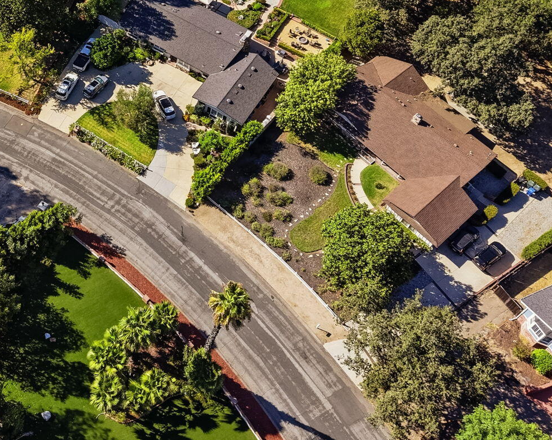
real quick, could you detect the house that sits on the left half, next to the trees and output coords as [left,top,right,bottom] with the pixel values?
[120,0,279,134]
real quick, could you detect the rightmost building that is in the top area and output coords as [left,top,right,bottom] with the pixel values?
[337,58,498,253]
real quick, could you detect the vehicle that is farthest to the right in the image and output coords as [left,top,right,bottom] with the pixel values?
[470,236,512,273]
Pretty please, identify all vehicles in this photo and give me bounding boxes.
[470,236,512,273]
[53,68,79,103]
[151,86,180,122]
[445,224,487,262]
[79,68,112,103]
[70,34,97,72]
